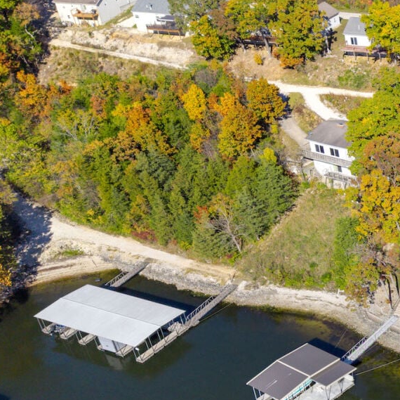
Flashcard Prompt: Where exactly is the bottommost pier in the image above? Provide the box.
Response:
[246,343,356,400]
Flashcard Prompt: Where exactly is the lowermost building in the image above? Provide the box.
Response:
[296,126,383,191]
